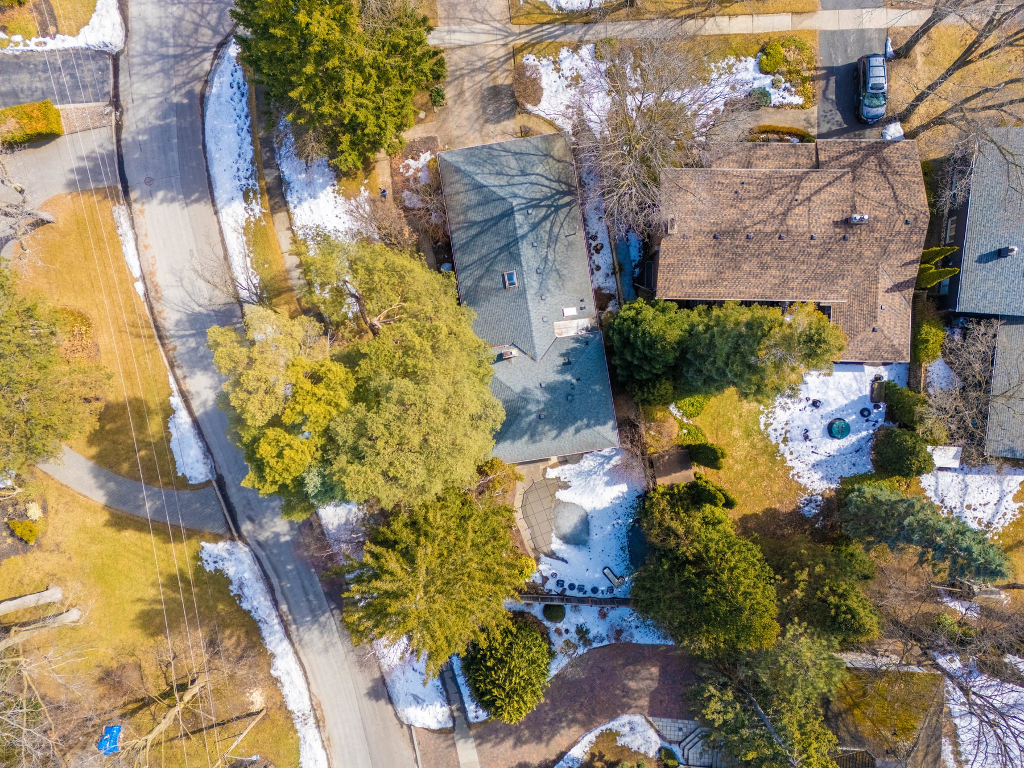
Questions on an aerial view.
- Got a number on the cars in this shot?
1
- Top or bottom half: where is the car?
top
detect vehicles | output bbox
[853,53,889,124]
